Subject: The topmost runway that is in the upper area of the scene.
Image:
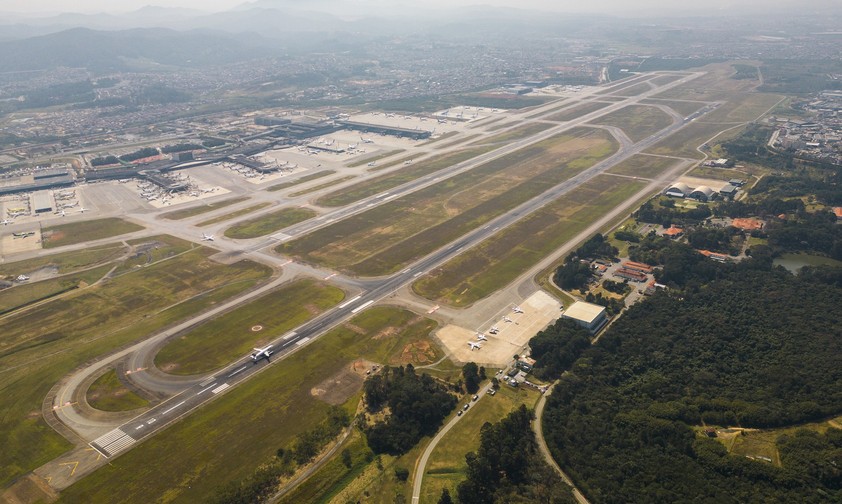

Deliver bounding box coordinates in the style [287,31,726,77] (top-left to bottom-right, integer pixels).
[210,71,709,264]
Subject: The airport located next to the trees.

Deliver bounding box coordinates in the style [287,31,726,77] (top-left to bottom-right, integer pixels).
[0,71,733,488]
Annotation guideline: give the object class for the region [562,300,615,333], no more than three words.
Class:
building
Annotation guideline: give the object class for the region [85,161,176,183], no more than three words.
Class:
building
